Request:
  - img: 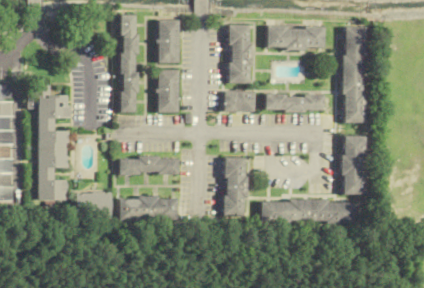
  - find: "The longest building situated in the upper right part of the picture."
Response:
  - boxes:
[344,26,366,124]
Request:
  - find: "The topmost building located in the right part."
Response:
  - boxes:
[268,25,326,52]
